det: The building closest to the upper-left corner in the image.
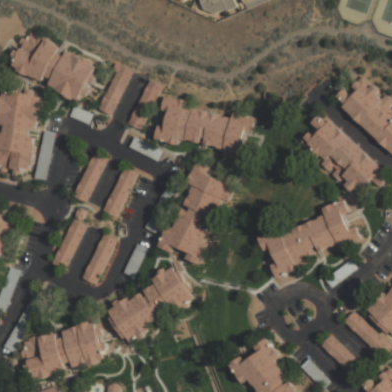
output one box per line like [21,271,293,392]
[16,36,96,98]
